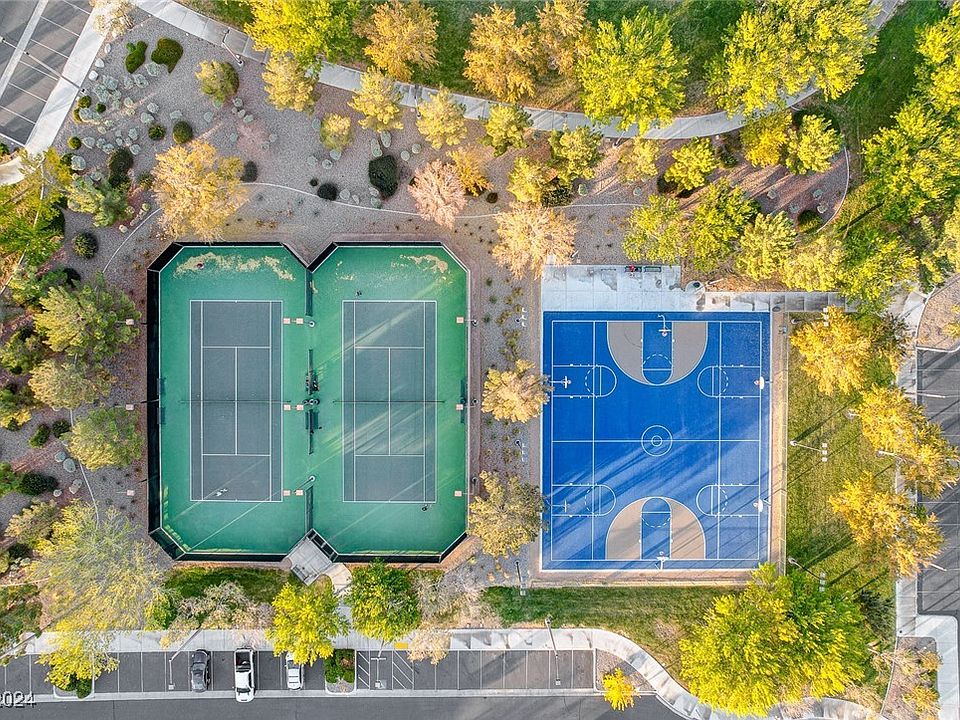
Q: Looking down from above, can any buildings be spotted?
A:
No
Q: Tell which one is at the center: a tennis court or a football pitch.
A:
tennis court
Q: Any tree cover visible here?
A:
Yes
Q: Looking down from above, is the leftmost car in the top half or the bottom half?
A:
bottom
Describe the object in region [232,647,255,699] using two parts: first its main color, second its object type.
white truck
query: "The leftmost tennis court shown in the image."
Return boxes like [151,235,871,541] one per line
[161,247,308,553]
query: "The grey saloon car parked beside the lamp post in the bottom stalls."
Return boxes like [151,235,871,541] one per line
[190,650,211,691]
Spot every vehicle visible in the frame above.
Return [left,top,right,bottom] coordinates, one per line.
[285,646,303,687]
[190,650,211,691]
[232,647,255,699]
